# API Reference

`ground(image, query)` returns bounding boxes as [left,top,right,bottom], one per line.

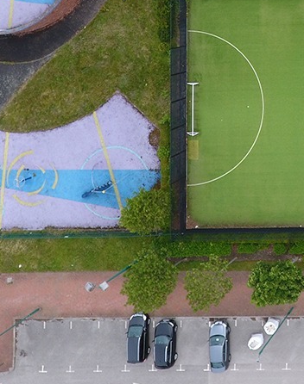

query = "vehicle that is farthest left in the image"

[123,314,150,362]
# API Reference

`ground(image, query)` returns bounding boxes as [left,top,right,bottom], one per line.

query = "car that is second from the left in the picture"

[150,318,176,369]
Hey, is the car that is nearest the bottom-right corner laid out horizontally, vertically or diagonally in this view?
vertically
